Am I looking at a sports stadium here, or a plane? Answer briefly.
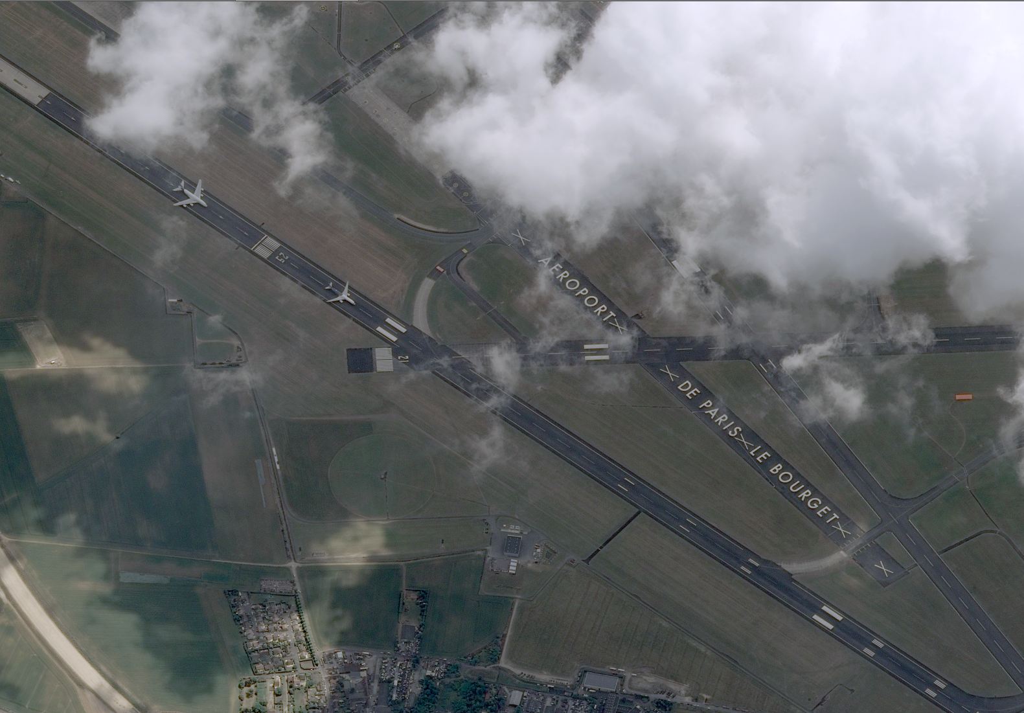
plane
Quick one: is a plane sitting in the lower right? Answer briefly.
No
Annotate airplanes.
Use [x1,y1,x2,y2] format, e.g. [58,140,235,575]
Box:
[326,280,356,304]
[172,177,208,206]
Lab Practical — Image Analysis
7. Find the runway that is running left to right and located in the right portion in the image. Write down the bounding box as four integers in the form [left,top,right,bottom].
[347,324,1024,374]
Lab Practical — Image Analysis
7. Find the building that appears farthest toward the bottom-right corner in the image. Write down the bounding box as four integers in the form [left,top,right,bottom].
[585,672,619,693]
